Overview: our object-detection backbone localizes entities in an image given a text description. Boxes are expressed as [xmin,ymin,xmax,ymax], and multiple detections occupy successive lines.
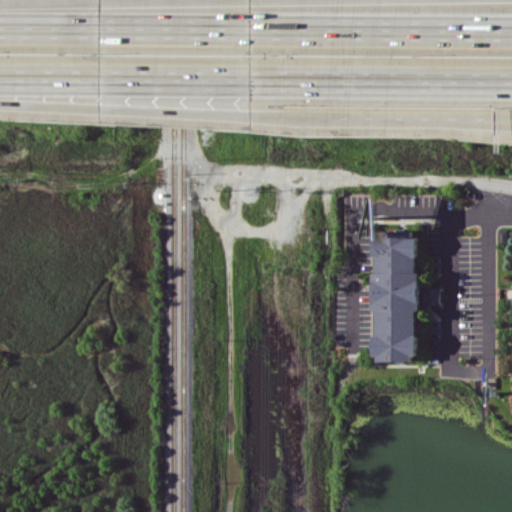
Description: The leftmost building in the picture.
[368,232,420,362]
